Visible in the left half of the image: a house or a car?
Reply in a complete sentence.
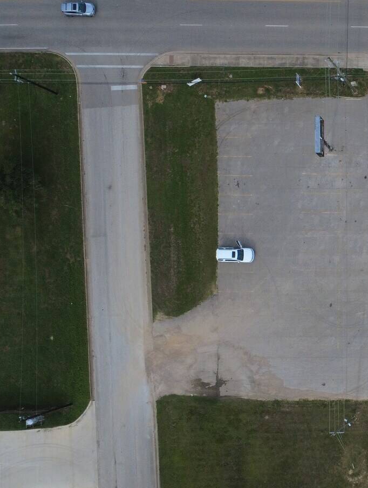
The feature located in the left half of the image is a car.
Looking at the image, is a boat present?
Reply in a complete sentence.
No, the frame has no boat in it.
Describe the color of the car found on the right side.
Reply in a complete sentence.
The color of the car found on the right side is white.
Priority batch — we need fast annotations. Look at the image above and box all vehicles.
[59,1,97,17]
[216,241,255,263]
